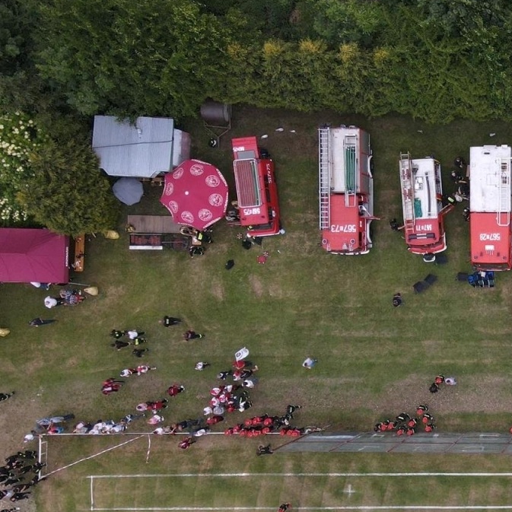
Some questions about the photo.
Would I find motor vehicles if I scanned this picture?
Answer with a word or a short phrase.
Yes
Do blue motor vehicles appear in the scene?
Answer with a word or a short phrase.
No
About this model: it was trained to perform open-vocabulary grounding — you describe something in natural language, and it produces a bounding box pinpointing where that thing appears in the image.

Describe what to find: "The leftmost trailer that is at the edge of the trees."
[197,101,233,150]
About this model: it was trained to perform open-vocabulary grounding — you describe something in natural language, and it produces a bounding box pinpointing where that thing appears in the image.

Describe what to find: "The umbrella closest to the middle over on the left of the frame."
[162,159,233,229]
